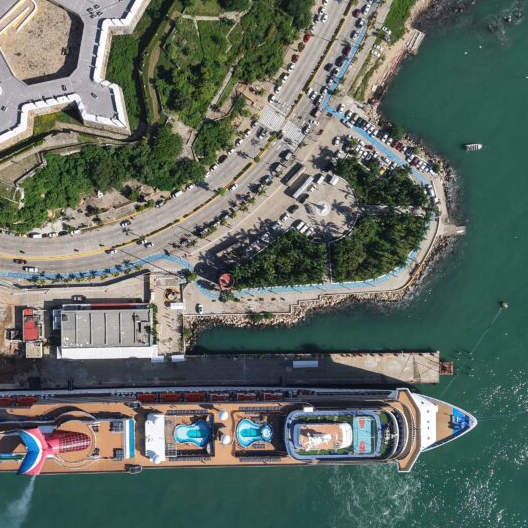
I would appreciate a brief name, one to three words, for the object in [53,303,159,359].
building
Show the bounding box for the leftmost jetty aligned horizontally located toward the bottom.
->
[0,350,439,390]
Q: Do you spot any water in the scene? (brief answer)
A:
Yes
